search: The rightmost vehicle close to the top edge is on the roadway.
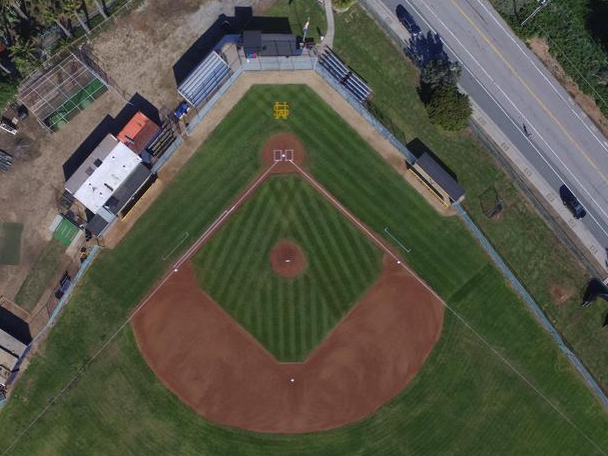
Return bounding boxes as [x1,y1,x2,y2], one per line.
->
[400,9,423,37]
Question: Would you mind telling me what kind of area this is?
sports ground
